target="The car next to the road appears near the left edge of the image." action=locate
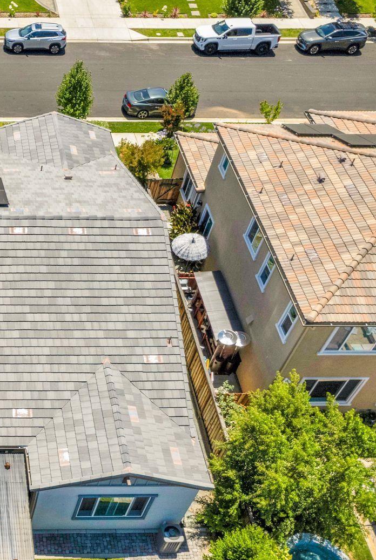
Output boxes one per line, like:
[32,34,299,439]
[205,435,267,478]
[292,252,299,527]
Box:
[1,17,70,52]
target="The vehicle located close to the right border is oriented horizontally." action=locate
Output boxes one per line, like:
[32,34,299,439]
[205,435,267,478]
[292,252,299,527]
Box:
[293,16,373,53]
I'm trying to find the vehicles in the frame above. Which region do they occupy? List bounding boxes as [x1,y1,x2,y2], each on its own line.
[1,17,70,52]
[188,14,285,54]
[118,83,202,118]
[293,16,373,53]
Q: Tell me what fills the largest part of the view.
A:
buildings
